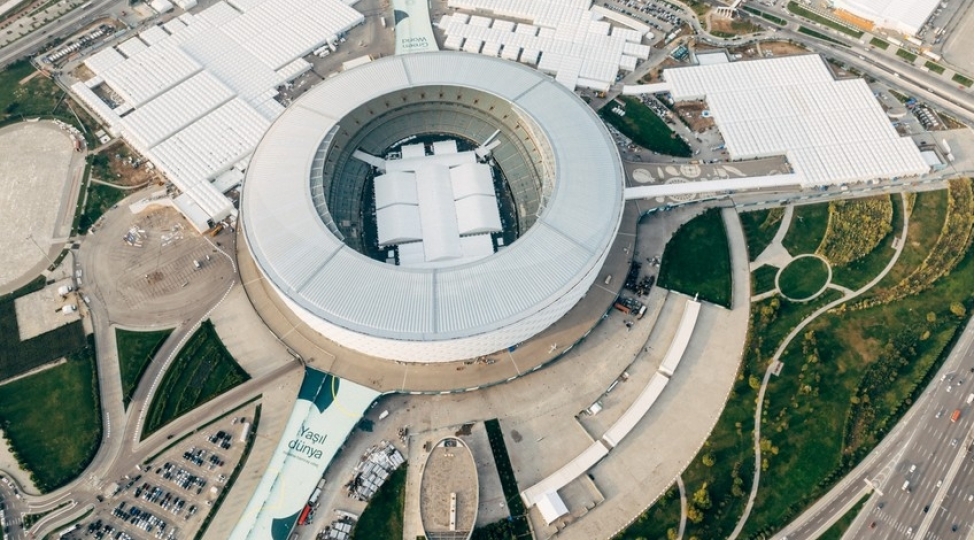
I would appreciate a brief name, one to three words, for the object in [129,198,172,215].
shed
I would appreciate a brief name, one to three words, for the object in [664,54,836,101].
building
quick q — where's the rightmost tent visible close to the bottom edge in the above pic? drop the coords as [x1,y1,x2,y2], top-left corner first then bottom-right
[536,490,569,528]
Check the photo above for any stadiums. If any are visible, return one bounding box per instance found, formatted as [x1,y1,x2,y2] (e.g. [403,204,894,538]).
[246,55,621,361]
